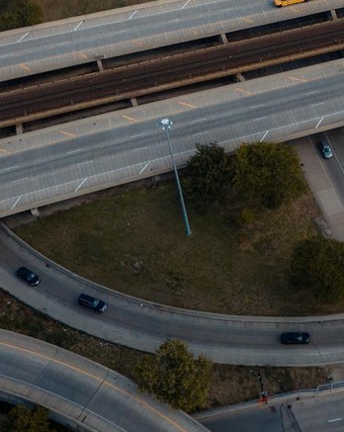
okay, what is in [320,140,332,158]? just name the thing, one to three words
vehicle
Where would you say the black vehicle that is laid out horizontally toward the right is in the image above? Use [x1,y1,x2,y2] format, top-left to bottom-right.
[280,330,310,345]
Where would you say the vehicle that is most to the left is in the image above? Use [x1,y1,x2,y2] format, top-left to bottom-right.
[16,266,38,285]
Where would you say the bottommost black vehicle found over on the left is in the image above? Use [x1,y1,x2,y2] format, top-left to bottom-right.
[79,294,105,312]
